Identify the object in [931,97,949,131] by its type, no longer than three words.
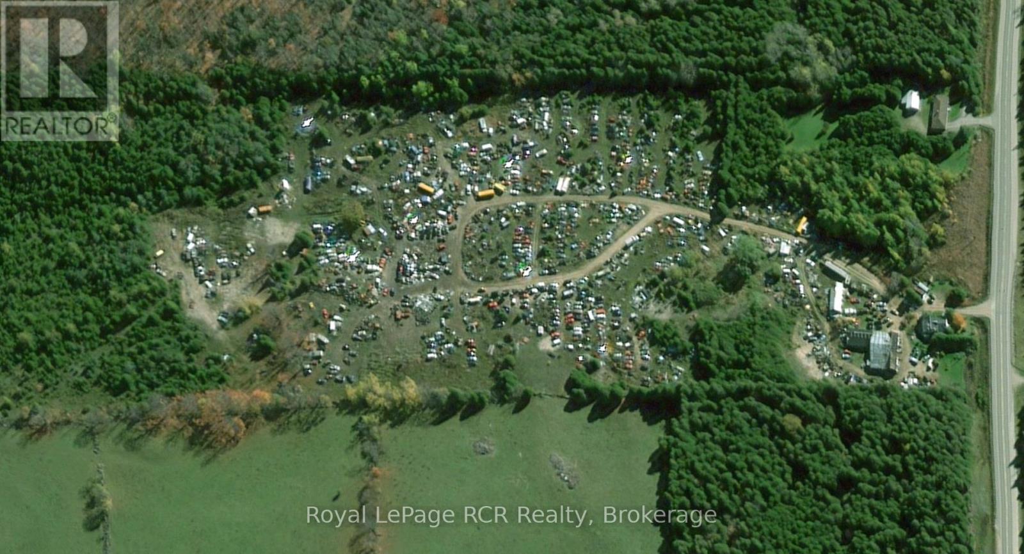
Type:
house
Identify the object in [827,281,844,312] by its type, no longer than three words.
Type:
shed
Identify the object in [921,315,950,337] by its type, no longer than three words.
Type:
house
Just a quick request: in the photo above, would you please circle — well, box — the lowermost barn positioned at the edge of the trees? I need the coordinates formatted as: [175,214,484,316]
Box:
[847,335,899,374]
